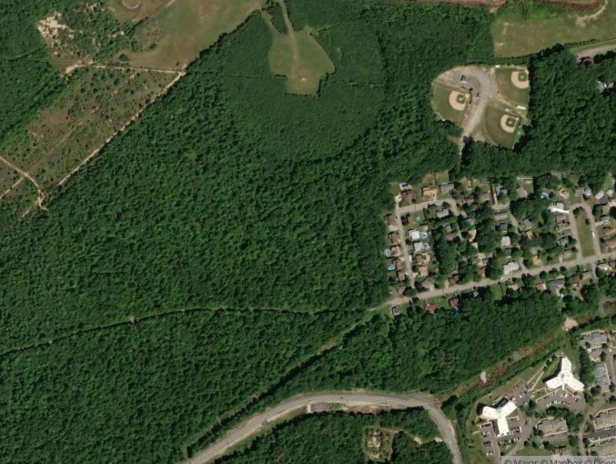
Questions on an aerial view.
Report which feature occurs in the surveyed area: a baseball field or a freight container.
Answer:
baseball field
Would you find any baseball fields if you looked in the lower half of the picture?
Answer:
No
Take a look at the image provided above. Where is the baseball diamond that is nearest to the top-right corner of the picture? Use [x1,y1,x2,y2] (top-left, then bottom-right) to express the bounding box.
[496,68,530,106]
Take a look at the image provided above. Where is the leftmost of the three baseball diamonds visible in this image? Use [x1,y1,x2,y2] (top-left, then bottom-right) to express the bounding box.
[432,85,469,124]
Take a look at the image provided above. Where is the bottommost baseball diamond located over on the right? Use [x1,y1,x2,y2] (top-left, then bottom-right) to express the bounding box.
[484,107,518,149]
